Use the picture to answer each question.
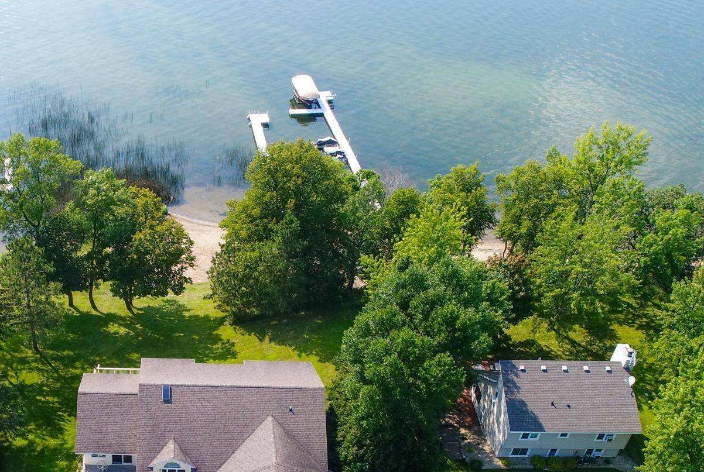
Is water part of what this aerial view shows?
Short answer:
Yes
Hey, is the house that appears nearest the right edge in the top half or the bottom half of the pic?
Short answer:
bottom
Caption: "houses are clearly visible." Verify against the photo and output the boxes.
[473,336,648,458]
[75,359,328,472]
